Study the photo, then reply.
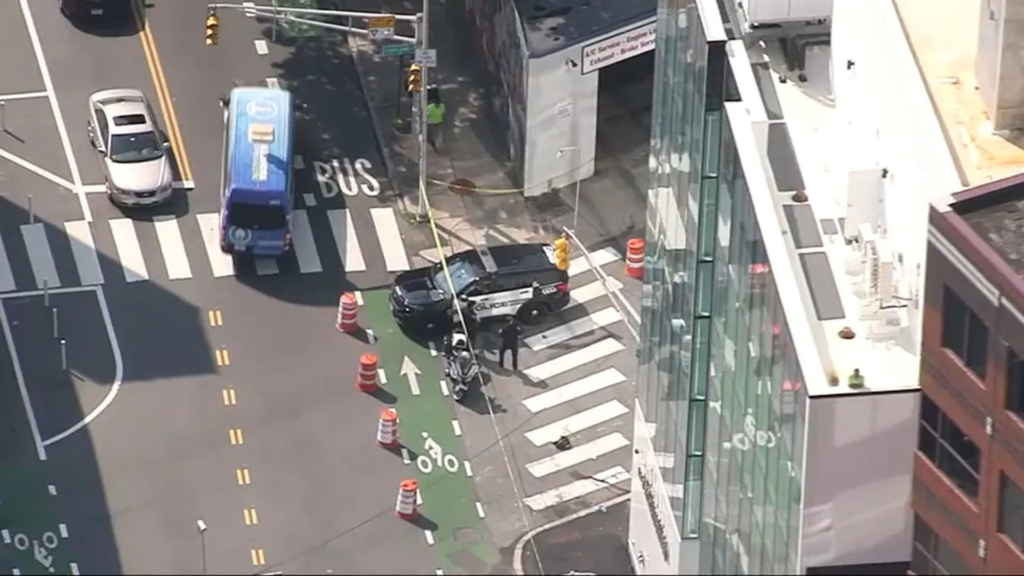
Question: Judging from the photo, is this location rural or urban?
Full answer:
From above, the setting appears urban.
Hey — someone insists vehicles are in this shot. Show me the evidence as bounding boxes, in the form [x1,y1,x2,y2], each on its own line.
[224,90,309,260]
[437,315,482,403]
[388,238,568,342]
[62,0,130,22]
[93,92,175,208]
